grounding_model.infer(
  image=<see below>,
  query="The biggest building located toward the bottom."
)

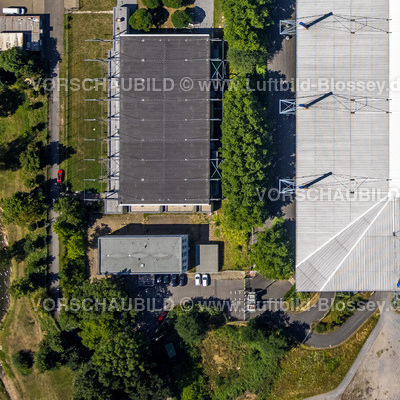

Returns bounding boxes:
[98,235,190,274]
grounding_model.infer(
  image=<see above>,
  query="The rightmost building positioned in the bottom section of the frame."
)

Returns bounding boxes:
[195,243,221,272]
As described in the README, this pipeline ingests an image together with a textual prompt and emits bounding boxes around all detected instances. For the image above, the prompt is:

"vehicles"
[56,170,63,183]
[180,274,186,286]
[172,274,178,286]
[164,274,170,286]
[195,273,201,285]
[202,274,208,286]
[156,274,162,286]
[0,8,24,15]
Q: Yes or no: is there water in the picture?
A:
No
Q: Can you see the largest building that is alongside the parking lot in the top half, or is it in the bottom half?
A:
top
